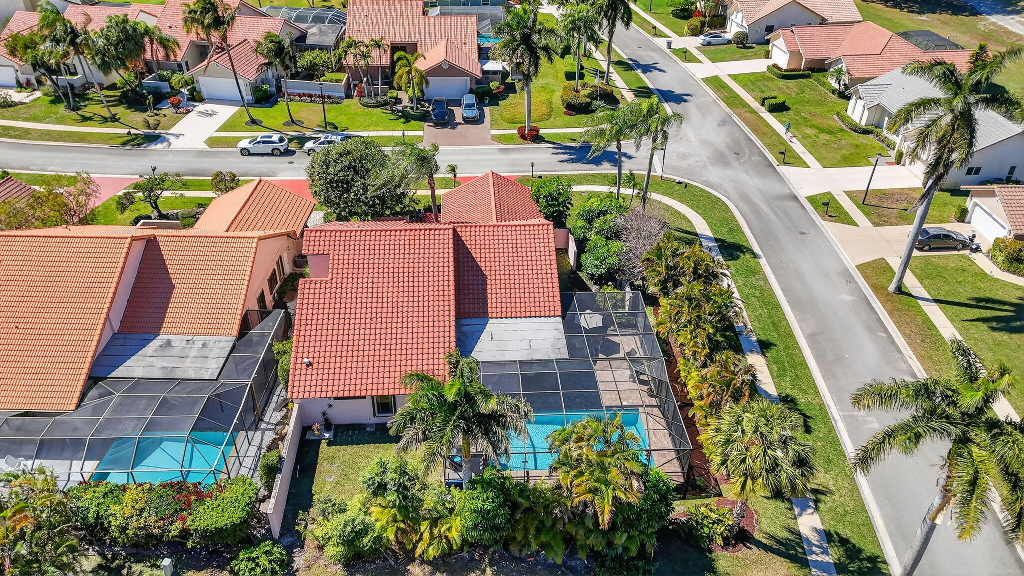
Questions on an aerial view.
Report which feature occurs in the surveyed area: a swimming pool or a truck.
swimming pool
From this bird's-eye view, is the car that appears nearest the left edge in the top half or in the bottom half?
top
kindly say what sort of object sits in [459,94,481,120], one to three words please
car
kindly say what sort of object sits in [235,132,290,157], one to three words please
car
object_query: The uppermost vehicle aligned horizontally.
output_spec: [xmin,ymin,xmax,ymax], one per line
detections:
[700,31,737,46]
